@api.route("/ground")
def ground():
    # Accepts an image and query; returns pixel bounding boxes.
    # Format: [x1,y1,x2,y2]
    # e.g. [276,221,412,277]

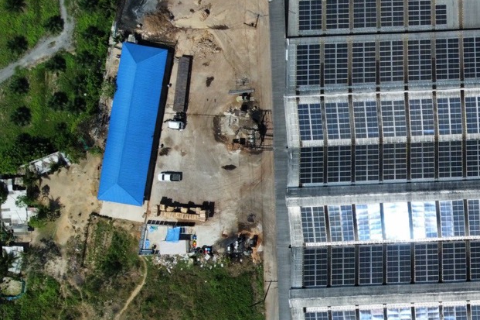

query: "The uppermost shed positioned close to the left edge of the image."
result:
[21,152,77,174]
